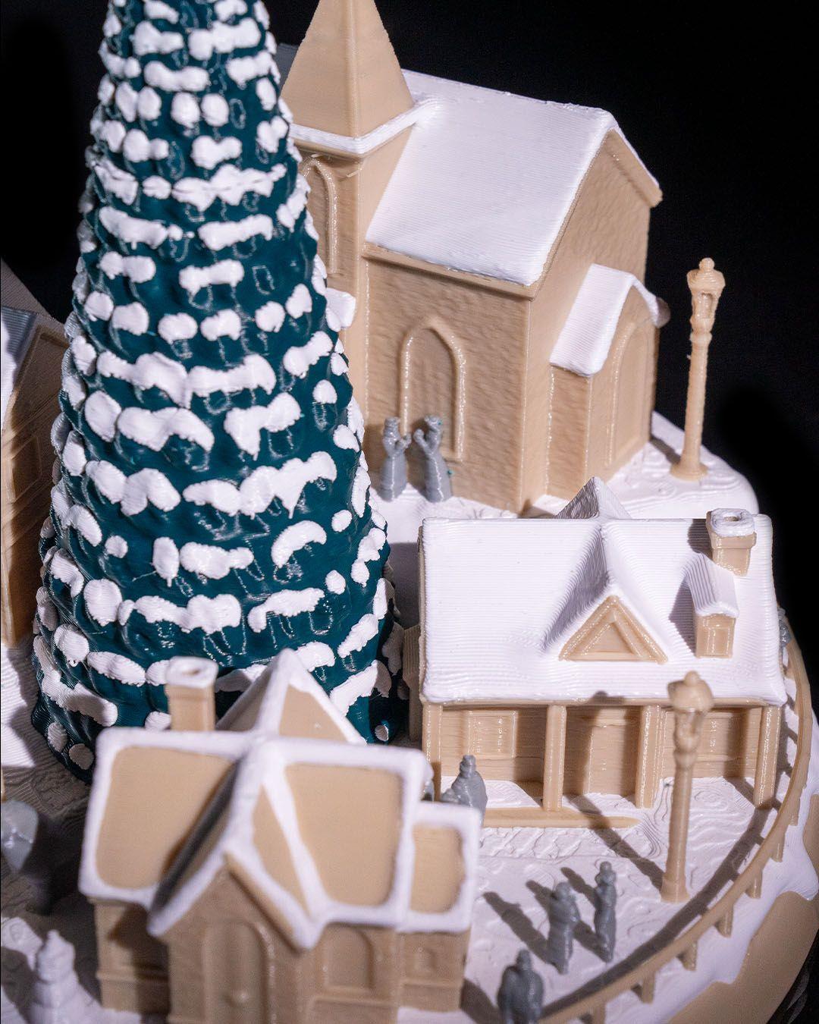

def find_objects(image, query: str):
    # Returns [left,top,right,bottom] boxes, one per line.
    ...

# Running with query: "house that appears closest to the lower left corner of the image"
[76,644,489,1024]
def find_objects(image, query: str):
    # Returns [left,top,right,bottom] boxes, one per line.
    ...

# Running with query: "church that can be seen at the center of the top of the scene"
[276,0,669,510]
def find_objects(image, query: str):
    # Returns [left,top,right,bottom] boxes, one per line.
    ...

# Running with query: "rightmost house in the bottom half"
[400,479,790,833]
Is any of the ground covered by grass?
No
